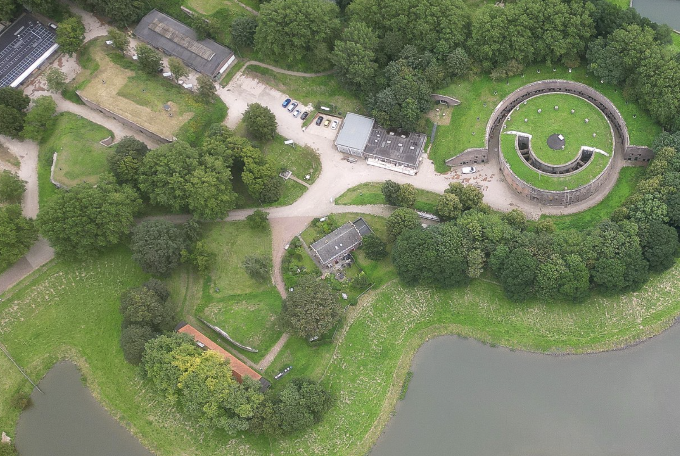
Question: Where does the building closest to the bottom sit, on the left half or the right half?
left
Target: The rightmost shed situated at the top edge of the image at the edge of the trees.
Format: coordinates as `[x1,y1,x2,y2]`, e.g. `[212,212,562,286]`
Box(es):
[134,9,237,80]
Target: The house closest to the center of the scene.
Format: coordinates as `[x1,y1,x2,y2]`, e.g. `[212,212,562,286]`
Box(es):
[310,217,375,266]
